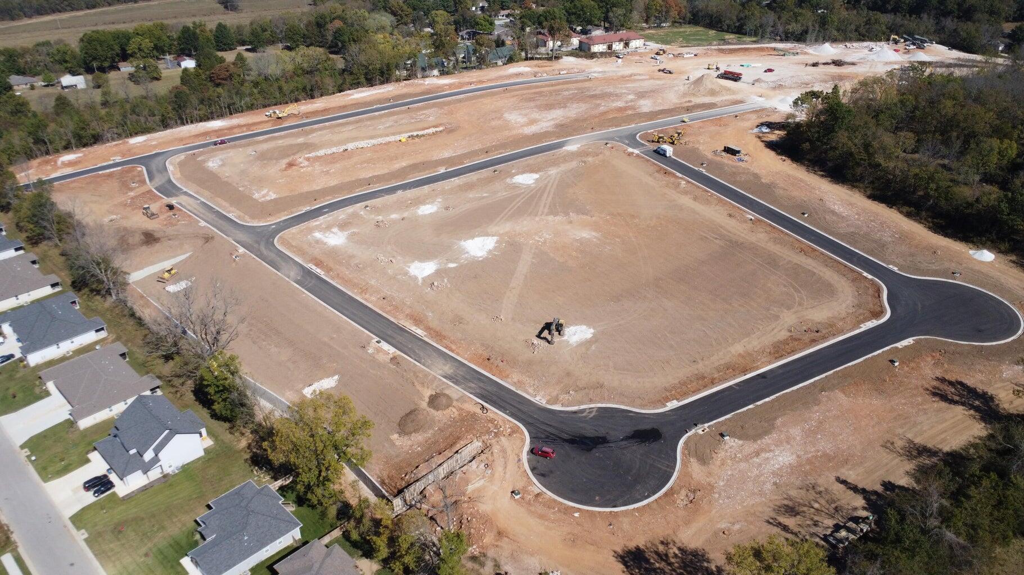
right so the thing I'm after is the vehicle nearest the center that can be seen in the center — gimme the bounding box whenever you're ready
[550,318,572,348]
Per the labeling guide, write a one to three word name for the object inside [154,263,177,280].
work vehicle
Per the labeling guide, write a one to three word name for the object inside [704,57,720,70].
vehicle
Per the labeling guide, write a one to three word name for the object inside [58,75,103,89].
barn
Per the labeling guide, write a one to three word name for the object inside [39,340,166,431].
house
